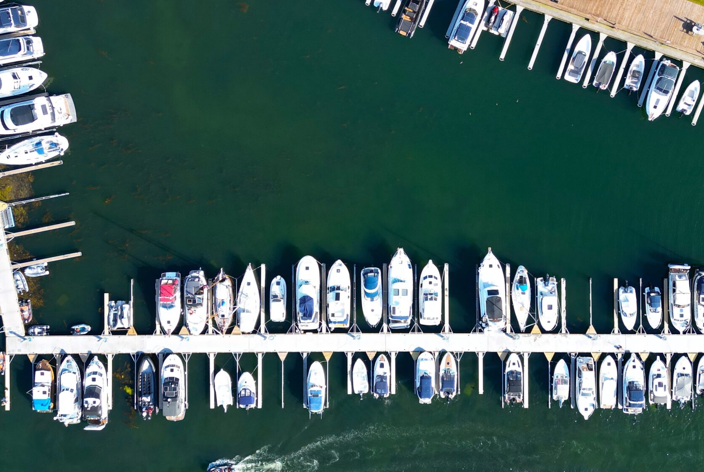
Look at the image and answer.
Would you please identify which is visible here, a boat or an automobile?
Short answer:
boat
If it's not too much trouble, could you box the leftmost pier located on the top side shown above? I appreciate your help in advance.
[484,3,515,39]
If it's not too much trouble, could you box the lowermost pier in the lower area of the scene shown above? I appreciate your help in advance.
[6,334,704,354]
